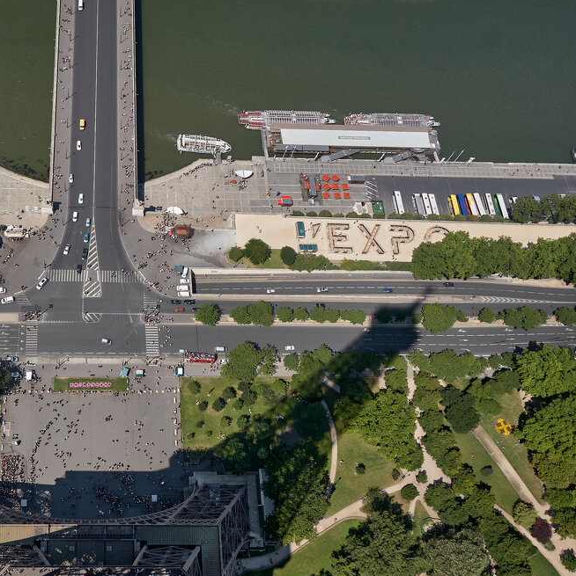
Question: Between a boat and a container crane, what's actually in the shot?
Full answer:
I can see a boat in this picture.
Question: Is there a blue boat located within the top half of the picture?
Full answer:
No, within the top half of the picture there is no blue boat.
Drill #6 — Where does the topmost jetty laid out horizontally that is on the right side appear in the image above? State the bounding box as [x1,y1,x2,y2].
[262,122,442,162]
